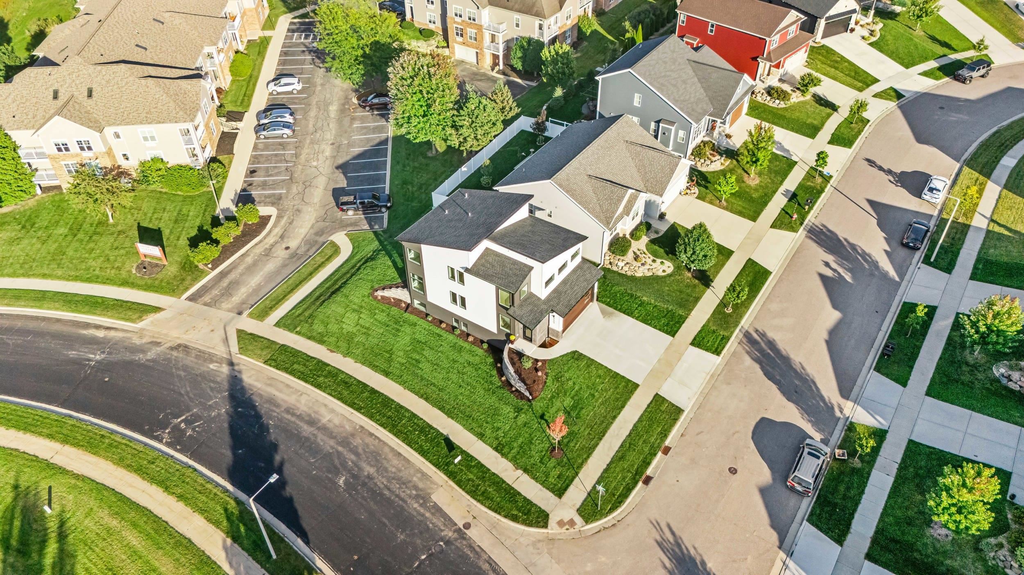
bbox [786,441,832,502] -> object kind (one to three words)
car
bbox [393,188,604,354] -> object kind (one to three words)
house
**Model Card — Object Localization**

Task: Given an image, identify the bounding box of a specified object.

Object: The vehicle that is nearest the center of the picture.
[336,188,395,216]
